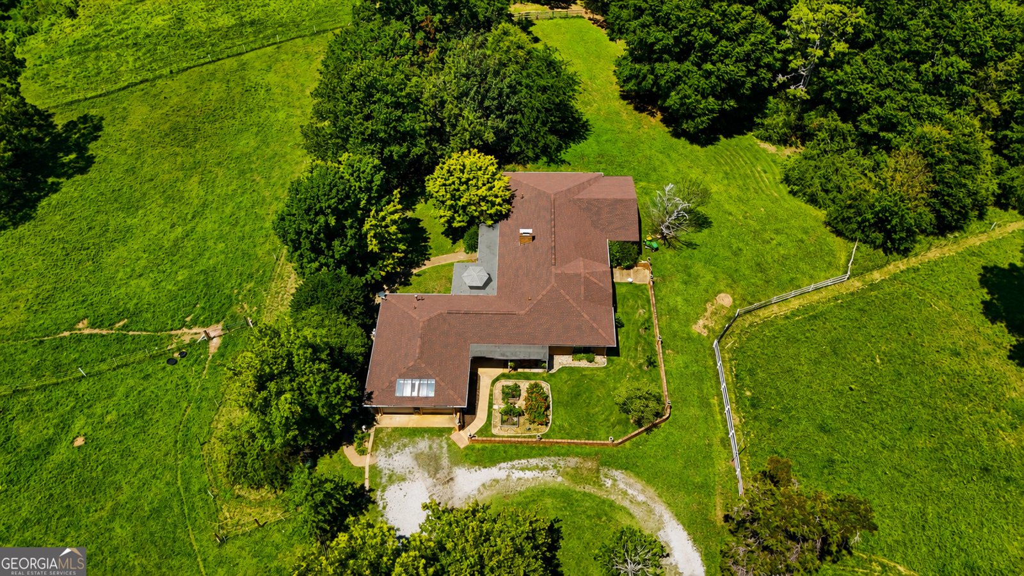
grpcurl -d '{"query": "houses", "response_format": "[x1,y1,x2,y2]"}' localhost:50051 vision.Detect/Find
[365,171,641,419]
